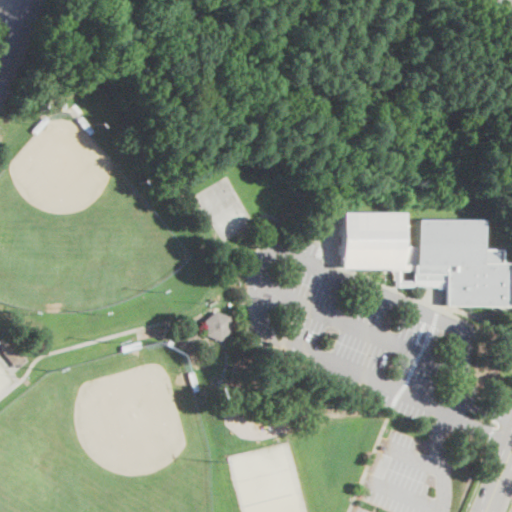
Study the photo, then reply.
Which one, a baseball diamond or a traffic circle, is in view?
baseball diamond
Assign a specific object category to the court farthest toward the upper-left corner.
basketball court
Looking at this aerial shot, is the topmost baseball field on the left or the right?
left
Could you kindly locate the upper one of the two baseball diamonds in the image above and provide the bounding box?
[0,114,190,313]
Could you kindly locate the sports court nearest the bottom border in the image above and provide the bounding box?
[228,442,306,512]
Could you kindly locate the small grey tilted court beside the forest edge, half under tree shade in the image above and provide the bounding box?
[196,177,251,242]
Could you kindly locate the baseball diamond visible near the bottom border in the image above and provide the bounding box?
[0,346,210,512]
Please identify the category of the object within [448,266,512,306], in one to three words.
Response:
building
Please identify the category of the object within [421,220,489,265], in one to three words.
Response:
building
